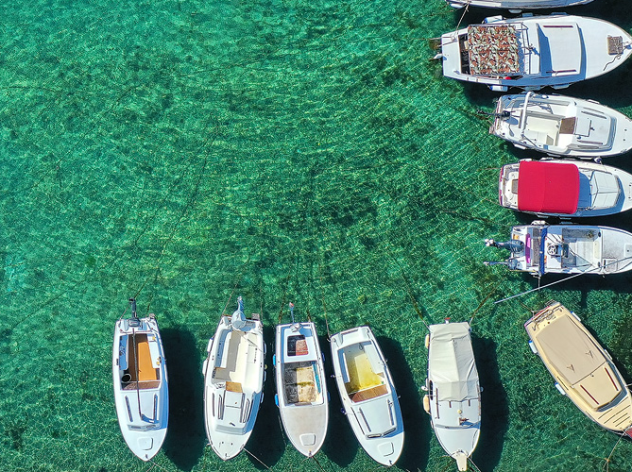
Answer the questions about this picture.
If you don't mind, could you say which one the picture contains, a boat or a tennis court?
boat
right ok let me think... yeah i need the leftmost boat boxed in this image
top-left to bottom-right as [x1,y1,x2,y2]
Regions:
[113,295,170,462]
